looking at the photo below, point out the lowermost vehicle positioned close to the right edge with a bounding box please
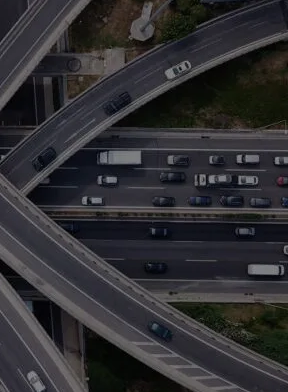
[246,264,283,276]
